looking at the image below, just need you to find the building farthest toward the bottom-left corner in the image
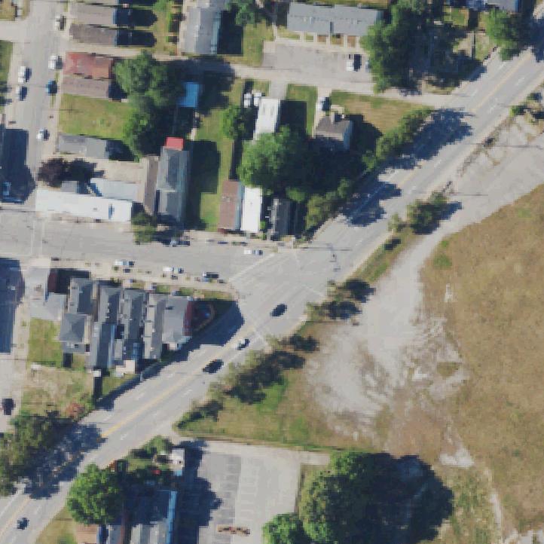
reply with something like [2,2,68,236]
[74,524,101,544]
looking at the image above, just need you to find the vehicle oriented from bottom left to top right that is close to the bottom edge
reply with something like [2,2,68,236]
[15,515,29,531]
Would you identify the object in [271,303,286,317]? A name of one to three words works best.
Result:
car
